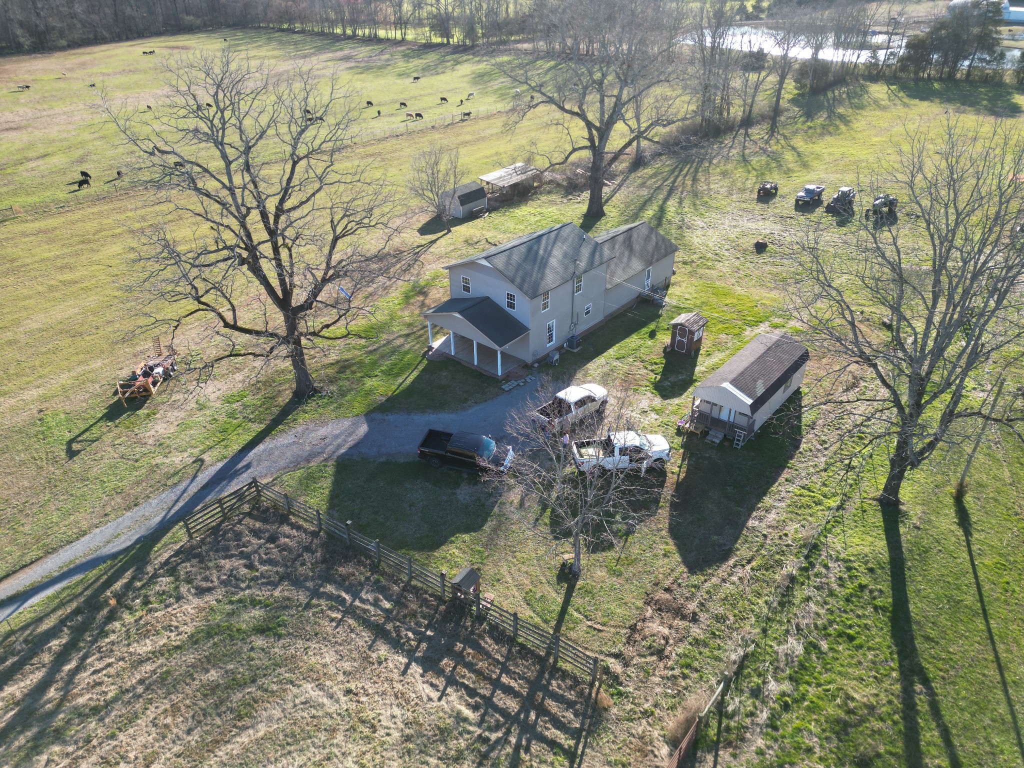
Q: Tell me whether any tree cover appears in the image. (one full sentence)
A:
Yes, there's tree cover in this view.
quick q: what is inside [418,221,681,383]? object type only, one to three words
house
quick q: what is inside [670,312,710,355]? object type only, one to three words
shed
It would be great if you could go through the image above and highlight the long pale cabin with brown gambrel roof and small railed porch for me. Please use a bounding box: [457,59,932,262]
[688,333,810,446]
